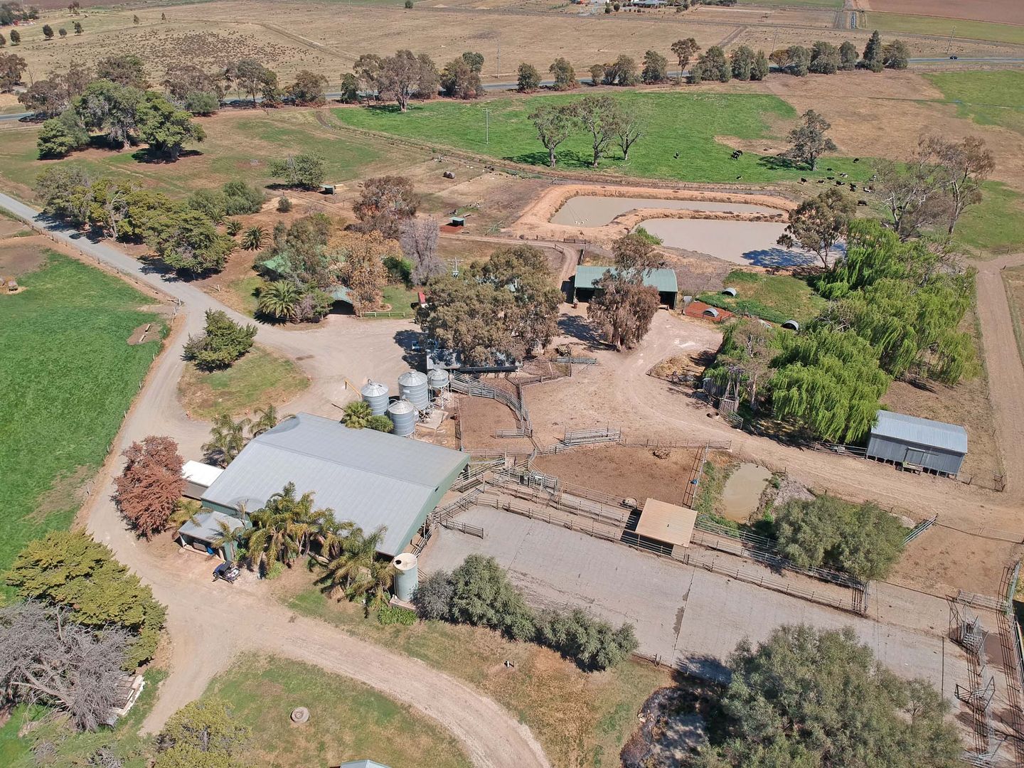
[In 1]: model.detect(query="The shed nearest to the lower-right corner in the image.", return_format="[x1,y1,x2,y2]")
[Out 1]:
[864,408,969,480]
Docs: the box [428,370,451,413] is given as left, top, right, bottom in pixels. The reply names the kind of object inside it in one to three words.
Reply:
silo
